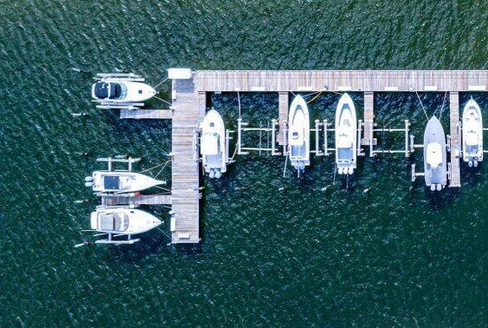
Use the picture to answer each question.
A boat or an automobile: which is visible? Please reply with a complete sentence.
Visible in the photo is a boat.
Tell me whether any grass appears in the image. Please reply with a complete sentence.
No, no grass is visible.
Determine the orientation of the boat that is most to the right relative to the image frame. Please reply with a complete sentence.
What the image shows is the boat that is most to the right lying from top to bottom.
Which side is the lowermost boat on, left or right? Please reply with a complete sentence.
The lowermost boat appears in the left half of the scene.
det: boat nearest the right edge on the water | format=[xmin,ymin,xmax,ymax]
[462,95,483,169]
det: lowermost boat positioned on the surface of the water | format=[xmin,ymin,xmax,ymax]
[90,208,170,234]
